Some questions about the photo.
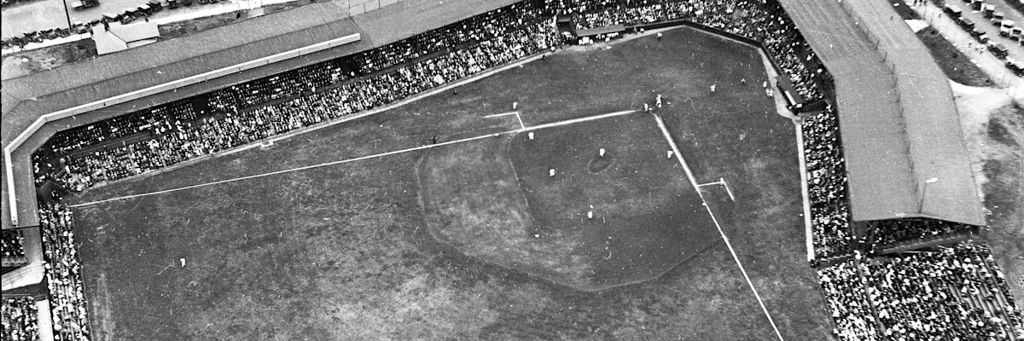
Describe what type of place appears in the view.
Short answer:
sports ground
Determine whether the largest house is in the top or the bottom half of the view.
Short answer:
top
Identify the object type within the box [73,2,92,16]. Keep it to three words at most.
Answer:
car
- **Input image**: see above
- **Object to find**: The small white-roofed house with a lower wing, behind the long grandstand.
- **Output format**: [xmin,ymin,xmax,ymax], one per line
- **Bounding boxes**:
[90,8,166,56]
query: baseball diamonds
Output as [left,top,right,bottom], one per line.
[69,27,835,341]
